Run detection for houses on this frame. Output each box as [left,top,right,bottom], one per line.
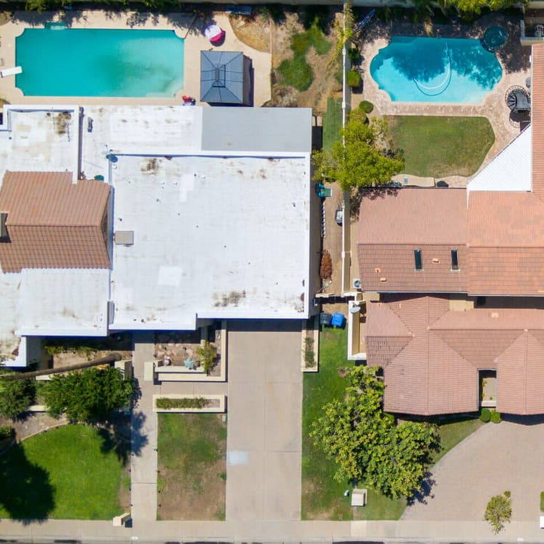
[0,105,320,365]
[356,42,544,417]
